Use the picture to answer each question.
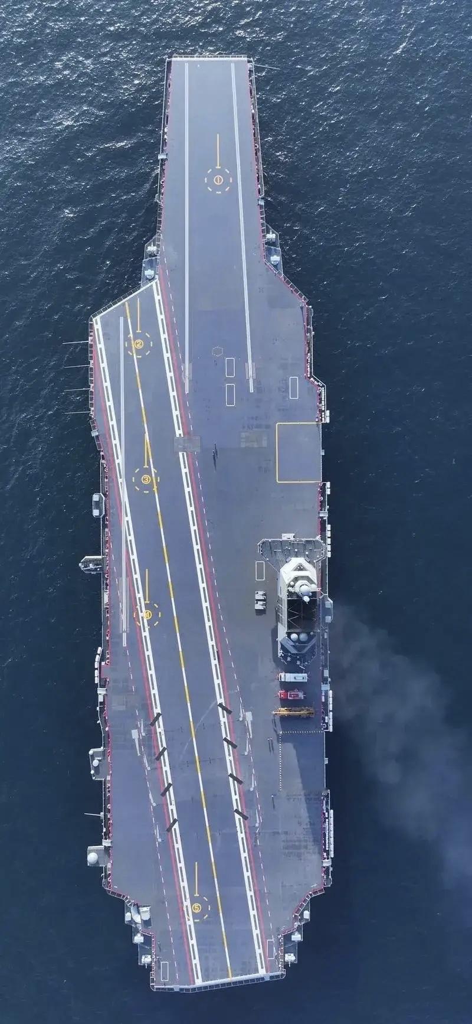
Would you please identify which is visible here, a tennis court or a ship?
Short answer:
ship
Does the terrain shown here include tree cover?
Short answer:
No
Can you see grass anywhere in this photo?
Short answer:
No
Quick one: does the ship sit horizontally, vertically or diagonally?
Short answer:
vertically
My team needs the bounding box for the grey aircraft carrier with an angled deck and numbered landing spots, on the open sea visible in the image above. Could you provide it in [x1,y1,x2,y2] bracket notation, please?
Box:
[64,55,334,992]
